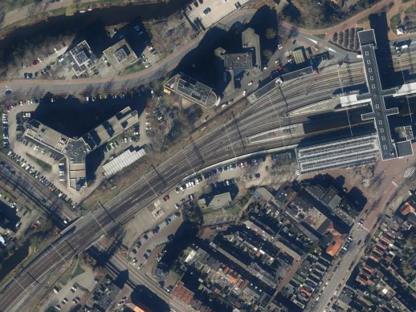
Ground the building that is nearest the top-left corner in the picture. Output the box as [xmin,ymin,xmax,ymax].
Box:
[70,39,97,76]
